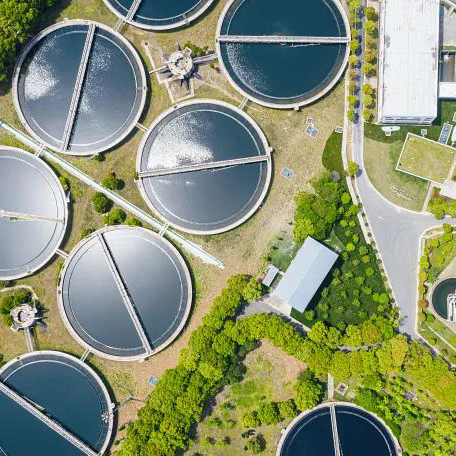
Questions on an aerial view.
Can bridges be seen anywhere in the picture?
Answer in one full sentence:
Yes, you can see a bridge in this photo.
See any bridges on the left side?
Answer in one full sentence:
Yes, the scene does show a bridge on the left side.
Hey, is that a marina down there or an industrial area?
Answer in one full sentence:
It's an industrial area.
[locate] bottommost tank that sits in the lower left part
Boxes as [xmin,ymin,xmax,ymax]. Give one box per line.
[0,351,116,456]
